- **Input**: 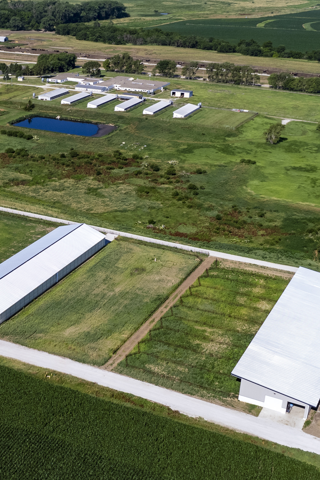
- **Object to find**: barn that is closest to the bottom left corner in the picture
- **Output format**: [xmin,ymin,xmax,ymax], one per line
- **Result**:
[0,222,107,325]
